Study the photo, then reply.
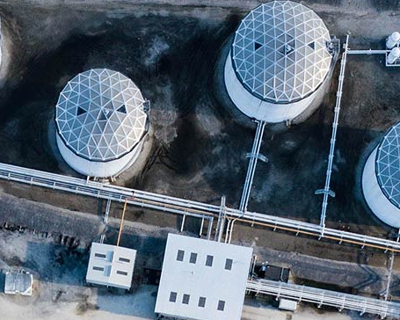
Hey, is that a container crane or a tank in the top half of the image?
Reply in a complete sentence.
What appears in the top half of the image is a tank.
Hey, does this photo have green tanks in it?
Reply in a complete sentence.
No, the photo shows no green tank.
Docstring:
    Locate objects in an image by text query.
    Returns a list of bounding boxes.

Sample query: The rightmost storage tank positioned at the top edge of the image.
[224,0,340,122]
